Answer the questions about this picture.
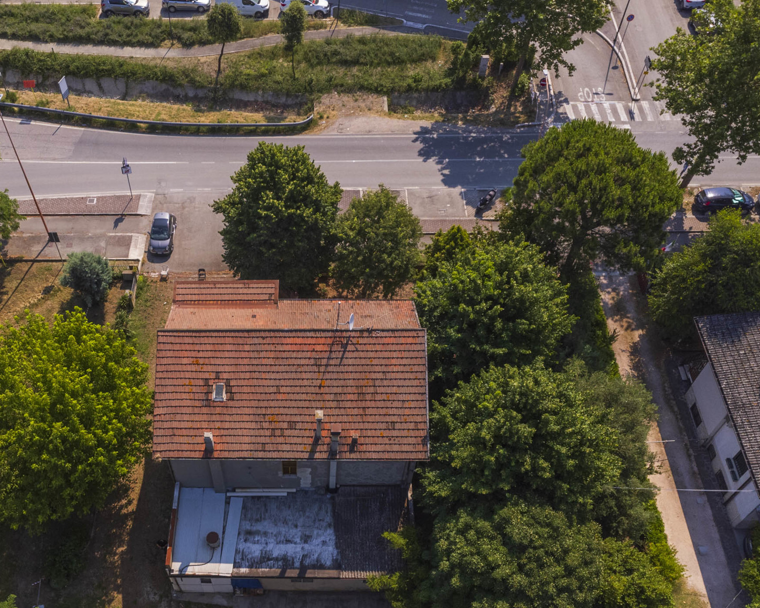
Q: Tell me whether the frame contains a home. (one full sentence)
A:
Yes, the photo shows a home.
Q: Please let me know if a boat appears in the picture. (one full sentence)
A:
No, I can see no boat in this picture.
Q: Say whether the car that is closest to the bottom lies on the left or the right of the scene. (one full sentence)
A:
You can find the car that is closest to the bottom on the left side of the picture.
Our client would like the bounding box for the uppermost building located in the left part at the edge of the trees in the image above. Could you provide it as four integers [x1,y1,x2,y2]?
[154,276,429,517]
